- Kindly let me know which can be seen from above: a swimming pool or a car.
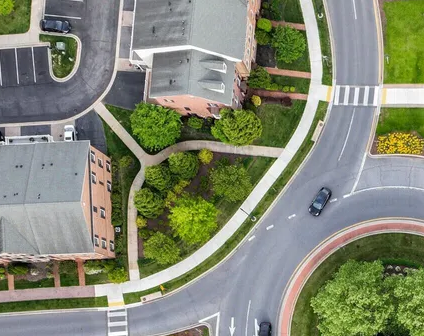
car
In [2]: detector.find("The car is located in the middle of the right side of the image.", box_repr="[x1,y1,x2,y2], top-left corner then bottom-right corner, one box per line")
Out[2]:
[309,185,332,218]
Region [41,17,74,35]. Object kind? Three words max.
car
